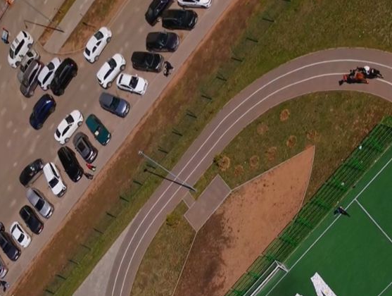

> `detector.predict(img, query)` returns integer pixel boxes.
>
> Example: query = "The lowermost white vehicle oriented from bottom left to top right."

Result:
[55,111,84,146]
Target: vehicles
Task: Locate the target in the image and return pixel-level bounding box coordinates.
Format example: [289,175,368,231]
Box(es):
[177,0,211,11]
[144,0,177,28]
[86,114,110,146]
[0,231,20,261]
[17,48,42,84]
[21,58,44,98]
[50,58,78,98]
[70,130,98,165]
[28,188,53,219]
[56,146,84,183]
[8,31,34,69]
[129,51,164,74]
[20,205,43,234]
[37,56,63,91]
[86,28,112,65]
[41,162,67,197]
[9,219,32,250]
[55,111,84,146]
[146,31,178,53]
[161,7,198,32]
[117,74,149,96]
[100,92,129,117]
[0,253,10,281]
[28,92,56,132]
[98,53,126,90]
[15,155,45,190]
